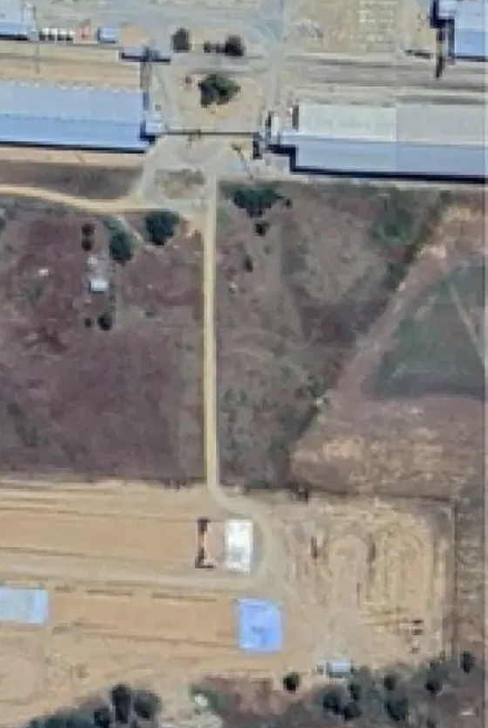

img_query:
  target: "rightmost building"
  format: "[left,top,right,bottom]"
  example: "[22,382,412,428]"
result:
[455,0,488,57]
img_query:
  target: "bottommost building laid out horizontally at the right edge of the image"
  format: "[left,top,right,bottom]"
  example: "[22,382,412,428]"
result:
[297,103,488,179]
